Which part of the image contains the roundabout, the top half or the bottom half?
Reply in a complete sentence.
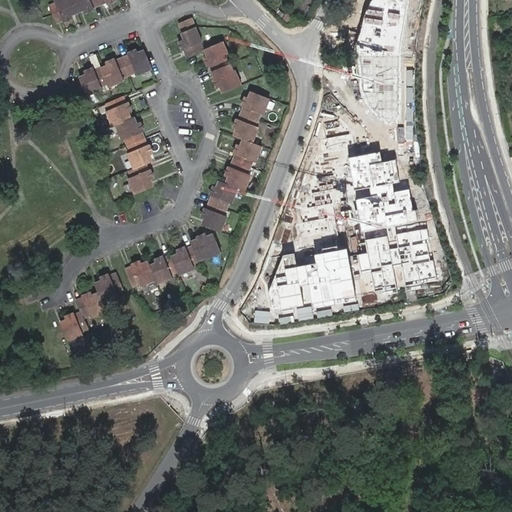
Seen from above, the roundabout lies in the bottom half of the view.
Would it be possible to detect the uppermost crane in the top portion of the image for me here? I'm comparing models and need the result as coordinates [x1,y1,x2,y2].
[224,37,388,88]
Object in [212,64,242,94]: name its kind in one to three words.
house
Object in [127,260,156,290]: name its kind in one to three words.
house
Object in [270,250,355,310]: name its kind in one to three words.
building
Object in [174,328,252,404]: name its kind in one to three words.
roundabout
